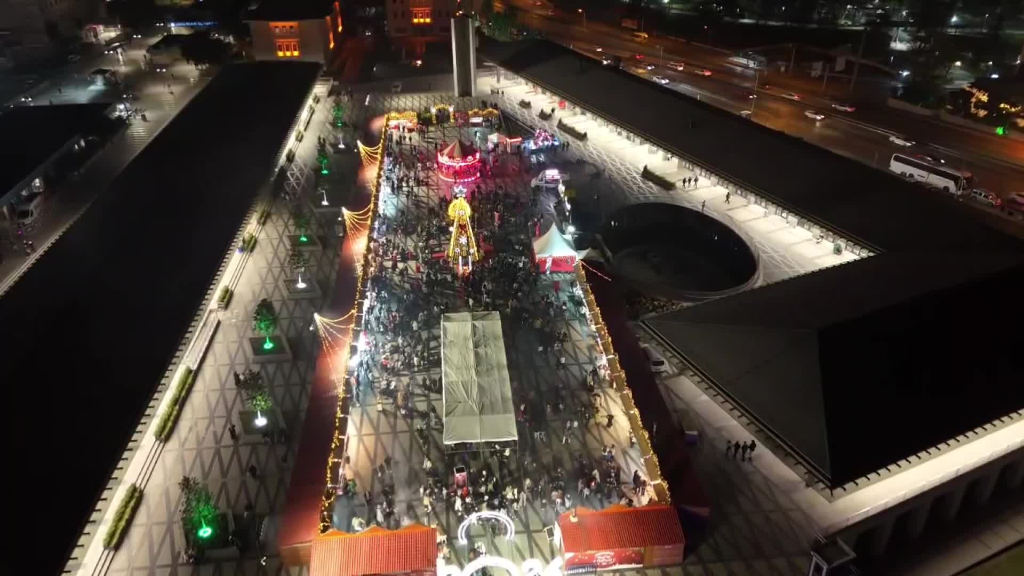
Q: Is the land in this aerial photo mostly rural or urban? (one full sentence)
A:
The area shown here is urban.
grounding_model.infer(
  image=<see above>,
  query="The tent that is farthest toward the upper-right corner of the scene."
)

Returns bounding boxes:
[574,237,606,269]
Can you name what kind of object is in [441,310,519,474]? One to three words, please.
tent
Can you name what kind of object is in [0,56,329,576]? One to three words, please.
building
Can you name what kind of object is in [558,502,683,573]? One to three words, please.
shed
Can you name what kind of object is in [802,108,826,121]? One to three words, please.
vehicle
